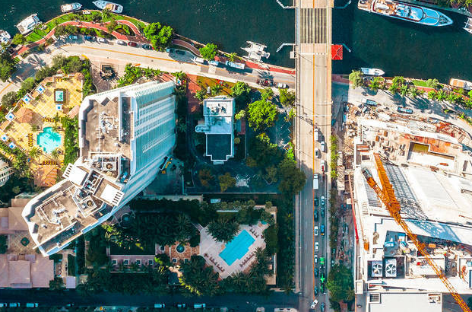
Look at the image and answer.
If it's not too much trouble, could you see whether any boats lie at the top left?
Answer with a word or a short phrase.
Yes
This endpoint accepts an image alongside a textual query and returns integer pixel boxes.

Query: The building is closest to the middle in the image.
[196,98,238,164]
